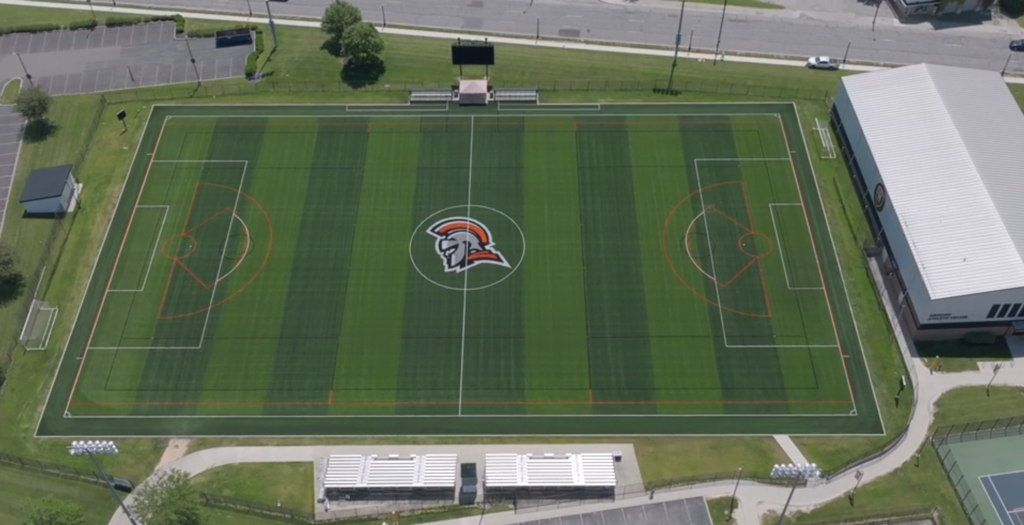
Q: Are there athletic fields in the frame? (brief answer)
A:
Yes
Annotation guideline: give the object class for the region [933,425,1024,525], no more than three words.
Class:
tennis court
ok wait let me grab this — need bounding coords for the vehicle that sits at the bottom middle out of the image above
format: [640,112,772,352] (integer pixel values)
[459,462,478,503]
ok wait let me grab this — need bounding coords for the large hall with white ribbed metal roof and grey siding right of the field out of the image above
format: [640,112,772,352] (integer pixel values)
[831,64,1024,343]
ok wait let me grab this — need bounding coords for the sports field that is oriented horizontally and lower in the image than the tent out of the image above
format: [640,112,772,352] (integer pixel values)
[37,102,884,435]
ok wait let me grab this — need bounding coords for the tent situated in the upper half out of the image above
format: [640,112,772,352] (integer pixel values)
[459,77,488,104]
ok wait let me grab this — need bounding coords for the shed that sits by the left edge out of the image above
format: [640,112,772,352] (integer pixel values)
[19,168,77,212]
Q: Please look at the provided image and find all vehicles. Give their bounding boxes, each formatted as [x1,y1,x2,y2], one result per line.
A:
[807,54,840,69]
[459,462,478,503]
[1013,38,1024,49]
